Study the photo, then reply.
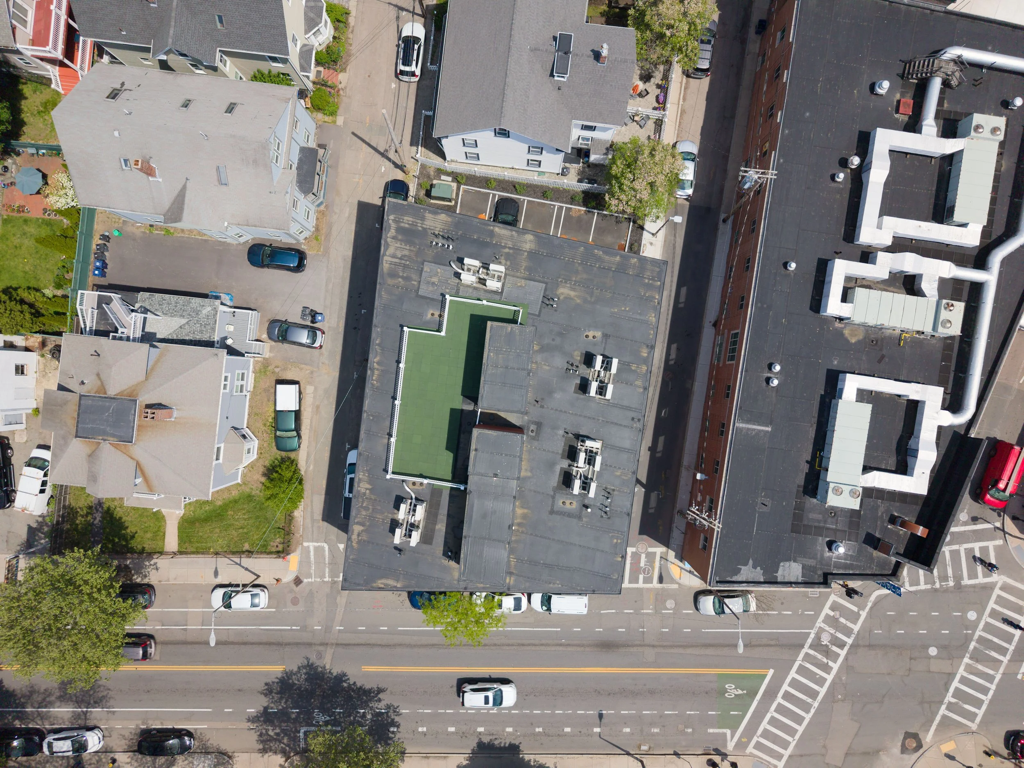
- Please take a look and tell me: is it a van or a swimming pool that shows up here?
van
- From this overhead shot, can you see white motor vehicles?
Yes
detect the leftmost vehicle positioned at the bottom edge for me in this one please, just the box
[0,730,39,762]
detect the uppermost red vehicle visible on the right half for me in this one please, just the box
[978,443,1024,511]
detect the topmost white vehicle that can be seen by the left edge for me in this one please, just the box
[8,445,51,514]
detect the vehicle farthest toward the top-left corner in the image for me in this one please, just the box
[245,240,306,273]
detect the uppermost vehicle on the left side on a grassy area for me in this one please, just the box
[269,382,300,451]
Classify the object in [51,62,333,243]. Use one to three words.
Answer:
house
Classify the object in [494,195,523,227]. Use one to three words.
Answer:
car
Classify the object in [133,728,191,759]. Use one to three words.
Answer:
car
